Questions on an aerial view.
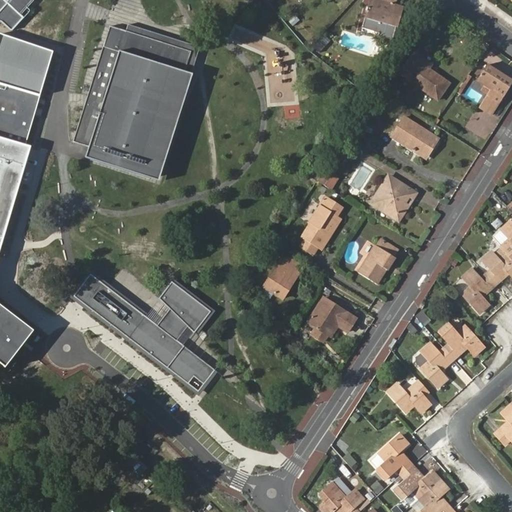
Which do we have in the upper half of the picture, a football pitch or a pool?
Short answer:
pool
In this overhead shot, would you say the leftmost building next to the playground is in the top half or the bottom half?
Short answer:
top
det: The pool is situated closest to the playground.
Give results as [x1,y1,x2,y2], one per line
[340,31,380,56]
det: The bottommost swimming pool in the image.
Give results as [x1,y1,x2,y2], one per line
[344,240,360,264]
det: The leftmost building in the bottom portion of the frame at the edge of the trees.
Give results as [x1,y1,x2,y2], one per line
[0,303,34,372]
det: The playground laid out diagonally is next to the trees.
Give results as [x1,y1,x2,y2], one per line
[228,25,299,107]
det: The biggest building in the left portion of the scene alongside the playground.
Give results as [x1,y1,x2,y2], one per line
[73,26,197,183]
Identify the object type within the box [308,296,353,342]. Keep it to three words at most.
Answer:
house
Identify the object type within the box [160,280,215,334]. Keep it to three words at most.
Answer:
building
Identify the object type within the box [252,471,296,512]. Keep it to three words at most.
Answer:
roundabout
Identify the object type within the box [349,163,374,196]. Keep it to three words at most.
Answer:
swimming pool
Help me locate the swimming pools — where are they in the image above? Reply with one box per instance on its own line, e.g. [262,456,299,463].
[344,240,360,264]
[466,88,484,104]
[340,31,380,56]
[349,163,374,196]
